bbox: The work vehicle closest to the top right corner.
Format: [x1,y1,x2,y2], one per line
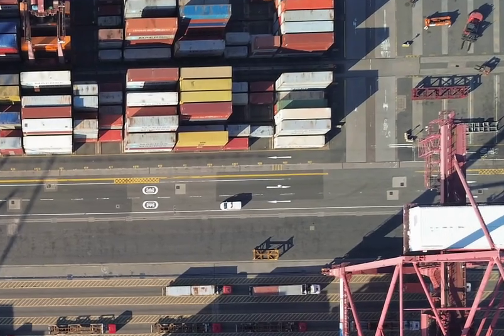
[460,2,491,49]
